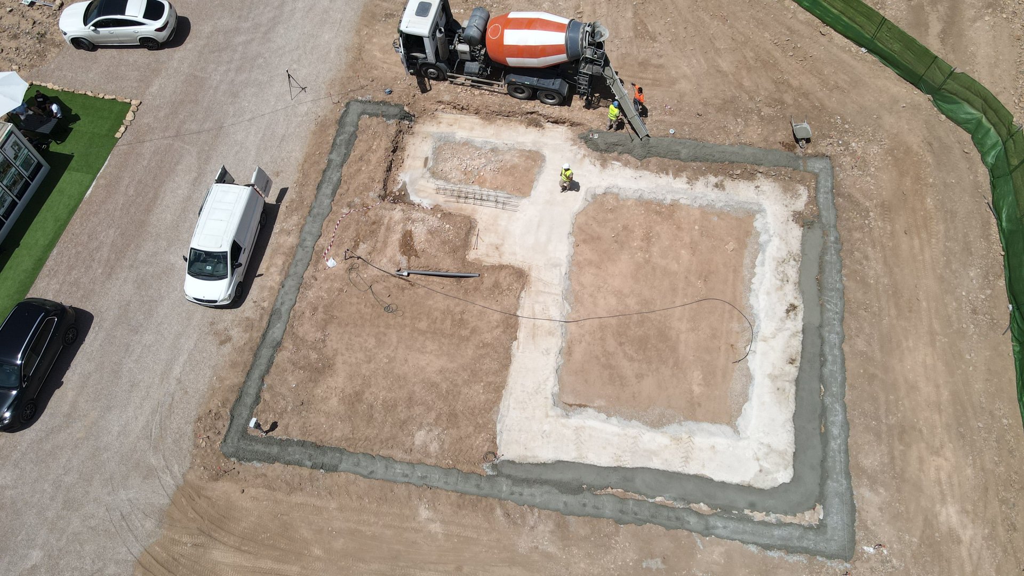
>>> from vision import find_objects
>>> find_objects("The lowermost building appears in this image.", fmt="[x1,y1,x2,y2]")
[0,123,48,240]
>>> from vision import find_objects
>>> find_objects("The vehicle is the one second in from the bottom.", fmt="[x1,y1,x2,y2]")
[174,164,272,308]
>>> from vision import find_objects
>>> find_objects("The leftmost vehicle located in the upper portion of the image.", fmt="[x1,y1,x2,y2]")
[60,0,173,49]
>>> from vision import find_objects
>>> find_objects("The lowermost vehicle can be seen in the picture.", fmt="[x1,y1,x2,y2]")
[0,303,73,437]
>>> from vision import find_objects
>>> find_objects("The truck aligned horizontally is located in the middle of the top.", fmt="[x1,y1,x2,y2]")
[389,0,650,135]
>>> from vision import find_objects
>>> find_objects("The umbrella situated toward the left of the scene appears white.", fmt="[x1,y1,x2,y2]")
[0,69,28,112]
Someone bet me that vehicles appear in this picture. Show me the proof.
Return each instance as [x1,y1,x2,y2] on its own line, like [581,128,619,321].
[174,164,272,308]
[389,0,650,135]
[60,0,173,49]
[0,303,73,437]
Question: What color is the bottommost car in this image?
black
